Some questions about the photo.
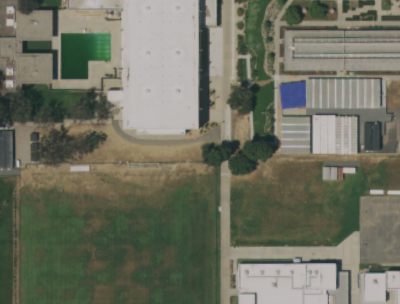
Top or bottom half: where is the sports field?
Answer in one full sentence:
The sports field sits in the bottom half of the picture.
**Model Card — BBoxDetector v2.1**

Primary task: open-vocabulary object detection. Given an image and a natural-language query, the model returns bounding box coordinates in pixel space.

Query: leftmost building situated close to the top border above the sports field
[0,0,59,88]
